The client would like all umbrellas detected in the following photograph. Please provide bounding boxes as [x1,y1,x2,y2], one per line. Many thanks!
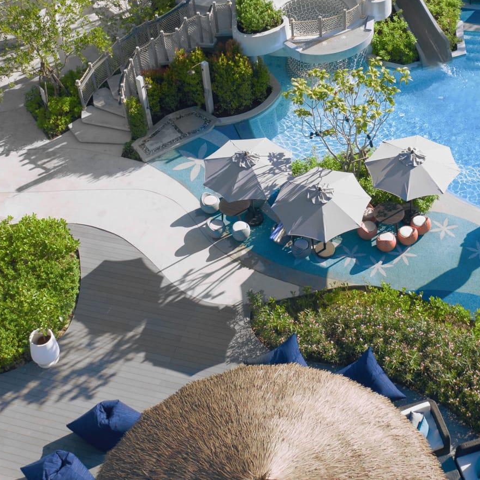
[266,164,374,262]
[363,137,464,224]
[99,371,446,480]
[197,135,301,229]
